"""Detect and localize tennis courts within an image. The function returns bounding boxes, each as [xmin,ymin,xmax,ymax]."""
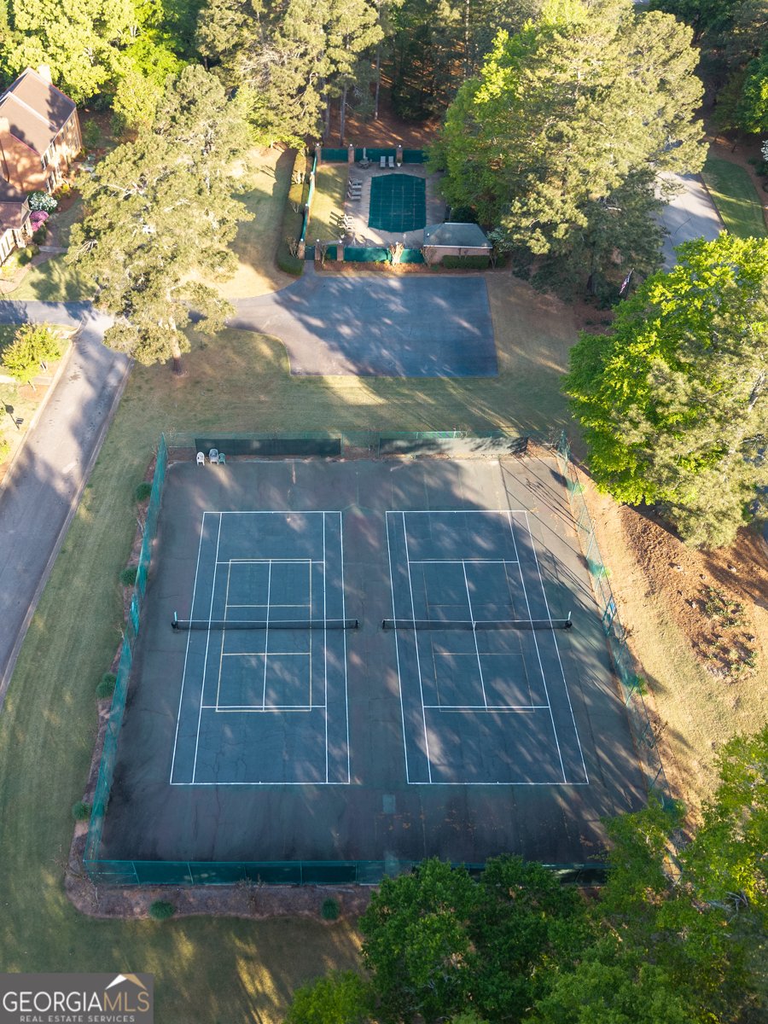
[387,511,588,783]
[170,511,350,783]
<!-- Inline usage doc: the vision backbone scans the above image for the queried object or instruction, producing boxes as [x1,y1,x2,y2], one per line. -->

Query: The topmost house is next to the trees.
[0,56,82,198]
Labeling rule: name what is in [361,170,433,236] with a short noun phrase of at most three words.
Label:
swimming pool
